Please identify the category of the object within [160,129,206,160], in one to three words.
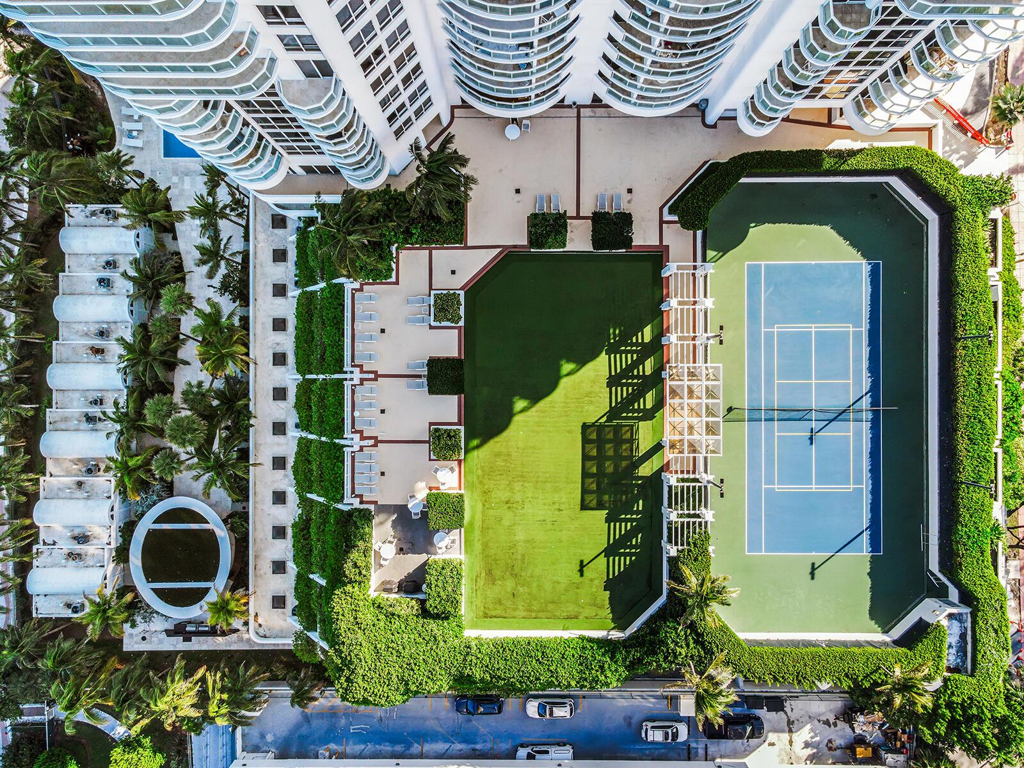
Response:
swimming pool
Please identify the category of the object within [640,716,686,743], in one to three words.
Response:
car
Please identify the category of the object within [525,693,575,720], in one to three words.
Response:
car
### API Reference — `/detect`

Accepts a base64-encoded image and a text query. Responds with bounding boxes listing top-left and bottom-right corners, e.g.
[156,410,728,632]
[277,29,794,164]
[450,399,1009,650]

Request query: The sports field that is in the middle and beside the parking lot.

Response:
[465,251,662,630]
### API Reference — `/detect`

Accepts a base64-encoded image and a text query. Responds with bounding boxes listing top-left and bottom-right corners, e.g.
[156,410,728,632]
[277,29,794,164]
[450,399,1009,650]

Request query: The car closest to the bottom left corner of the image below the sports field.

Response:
[455,692,503,719]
